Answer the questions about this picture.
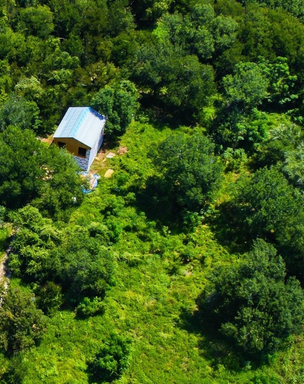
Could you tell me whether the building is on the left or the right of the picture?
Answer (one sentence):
The building is on the left side of the image.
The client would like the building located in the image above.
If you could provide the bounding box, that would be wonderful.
[52,108,106,169]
